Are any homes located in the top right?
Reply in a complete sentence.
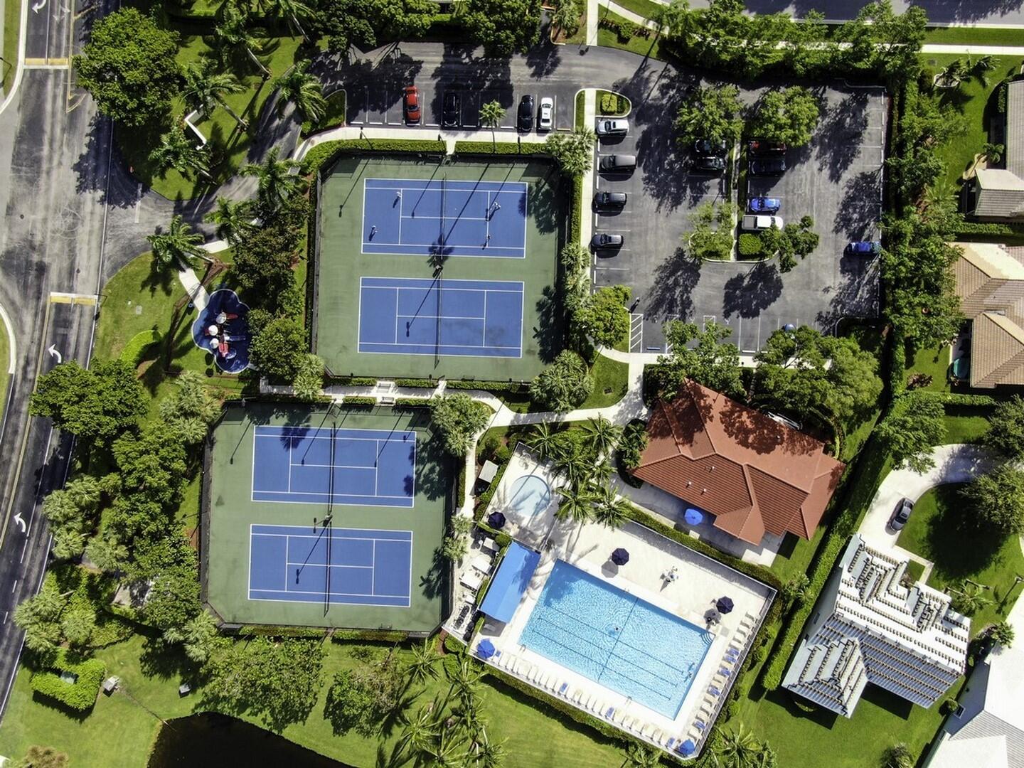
Yes, looking in the top right, one can make out a home.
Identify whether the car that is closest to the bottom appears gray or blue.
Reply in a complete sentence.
In this view, the car that is closest to the bottom is gray.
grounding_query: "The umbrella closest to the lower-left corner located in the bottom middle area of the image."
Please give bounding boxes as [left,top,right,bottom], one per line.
[476,638,495,657]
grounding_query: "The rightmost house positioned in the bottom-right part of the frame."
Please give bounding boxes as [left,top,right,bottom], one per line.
[917,657,1024,768]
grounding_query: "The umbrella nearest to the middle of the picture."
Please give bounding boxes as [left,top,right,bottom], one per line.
[487,510,506,529]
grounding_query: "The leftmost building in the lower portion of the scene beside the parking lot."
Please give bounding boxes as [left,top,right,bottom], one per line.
[632,378,846,546]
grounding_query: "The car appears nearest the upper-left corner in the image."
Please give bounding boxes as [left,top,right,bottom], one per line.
[405,89,419,123]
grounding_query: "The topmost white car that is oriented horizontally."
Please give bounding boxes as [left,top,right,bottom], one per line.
[596,118,630,135]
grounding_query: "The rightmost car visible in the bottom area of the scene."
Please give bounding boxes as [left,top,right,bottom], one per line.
[889,497,914,530]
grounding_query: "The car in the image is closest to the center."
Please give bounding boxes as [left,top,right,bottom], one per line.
[591,234,624,249]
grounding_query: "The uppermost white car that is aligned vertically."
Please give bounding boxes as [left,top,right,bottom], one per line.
[538,97,553,131]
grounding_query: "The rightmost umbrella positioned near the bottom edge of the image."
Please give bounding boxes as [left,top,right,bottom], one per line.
[678,737,695,755]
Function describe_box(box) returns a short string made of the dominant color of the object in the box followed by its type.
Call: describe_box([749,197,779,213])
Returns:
blue car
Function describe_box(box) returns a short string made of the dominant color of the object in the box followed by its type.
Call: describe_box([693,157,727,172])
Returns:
black car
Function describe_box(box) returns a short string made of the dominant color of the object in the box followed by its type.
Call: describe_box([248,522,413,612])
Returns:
blue tennis court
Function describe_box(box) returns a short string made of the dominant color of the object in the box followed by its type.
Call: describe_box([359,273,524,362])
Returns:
blue tennis court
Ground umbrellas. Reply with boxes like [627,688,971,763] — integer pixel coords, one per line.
[714,595,733,613]
[611,546,629,565]
[476,638,495,657]
[683,506,703,526]
[487,510,506,529]
[678,737,695,755]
